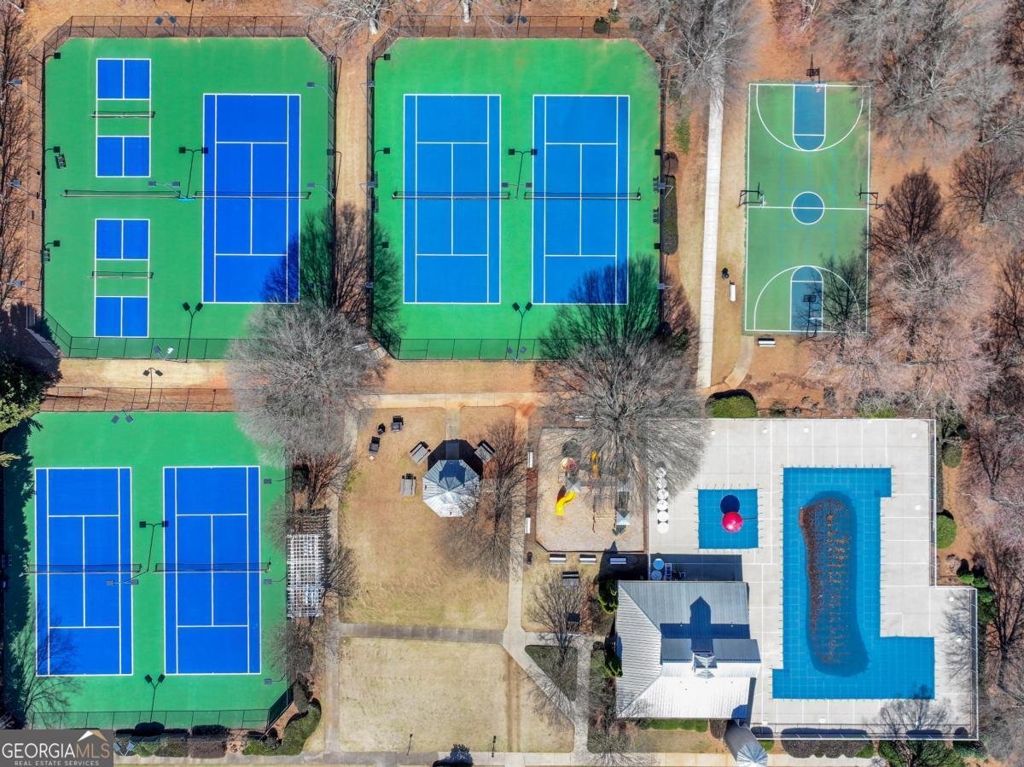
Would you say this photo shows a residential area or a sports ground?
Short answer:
sports ground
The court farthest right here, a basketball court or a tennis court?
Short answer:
basketball court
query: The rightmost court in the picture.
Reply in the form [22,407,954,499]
[744,82,871,334]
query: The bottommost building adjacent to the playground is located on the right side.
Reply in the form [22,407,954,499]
[616,580,764,720]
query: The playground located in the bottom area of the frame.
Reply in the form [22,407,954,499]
[537,429,647,551]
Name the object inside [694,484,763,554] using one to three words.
swimming pool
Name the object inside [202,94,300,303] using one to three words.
tennis court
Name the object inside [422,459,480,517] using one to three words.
gazebo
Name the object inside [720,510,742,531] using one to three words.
fountain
